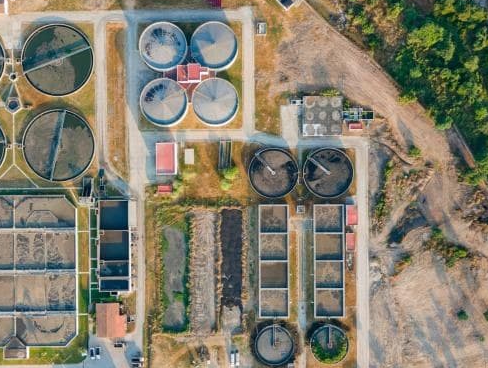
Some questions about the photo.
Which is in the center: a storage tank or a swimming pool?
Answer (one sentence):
There is a storage tank in the center.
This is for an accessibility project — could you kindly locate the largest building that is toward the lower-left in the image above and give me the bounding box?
[96,303,127,339]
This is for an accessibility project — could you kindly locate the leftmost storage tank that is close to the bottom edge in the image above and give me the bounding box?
[253,324,295,365]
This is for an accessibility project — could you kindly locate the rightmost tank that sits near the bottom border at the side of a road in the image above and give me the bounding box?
[308,324,348,364]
